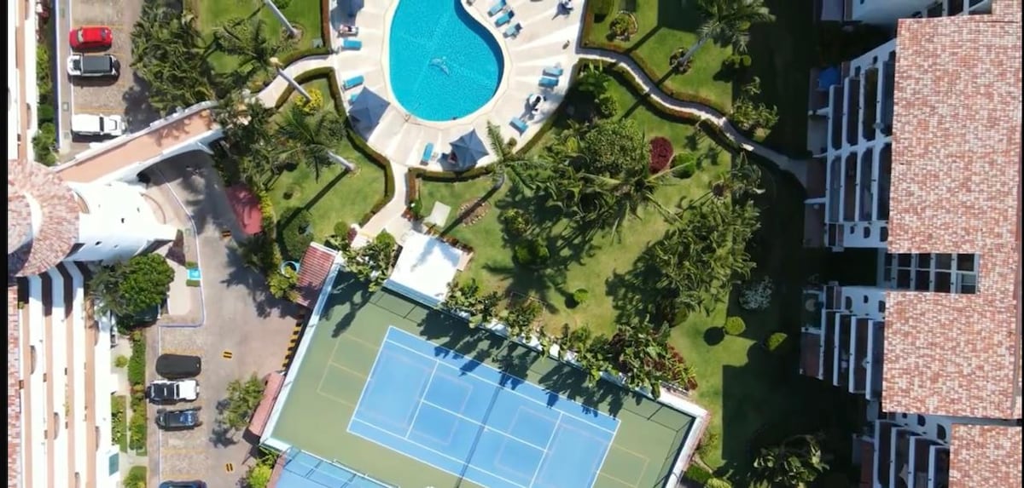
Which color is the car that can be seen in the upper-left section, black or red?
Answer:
red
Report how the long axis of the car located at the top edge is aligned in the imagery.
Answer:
from left to right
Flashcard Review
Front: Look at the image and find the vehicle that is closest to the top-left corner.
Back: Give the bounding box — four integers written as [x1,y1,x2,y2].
[66,24,110,47]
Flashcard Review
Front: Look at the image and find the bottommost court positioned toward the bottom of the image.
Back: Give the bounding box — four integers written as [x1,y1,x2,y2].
[243,447,364,488]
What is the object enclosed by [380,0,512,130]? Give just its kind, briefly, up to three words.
swimming pool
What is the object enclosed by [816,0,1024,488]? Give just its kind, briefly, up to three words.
building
